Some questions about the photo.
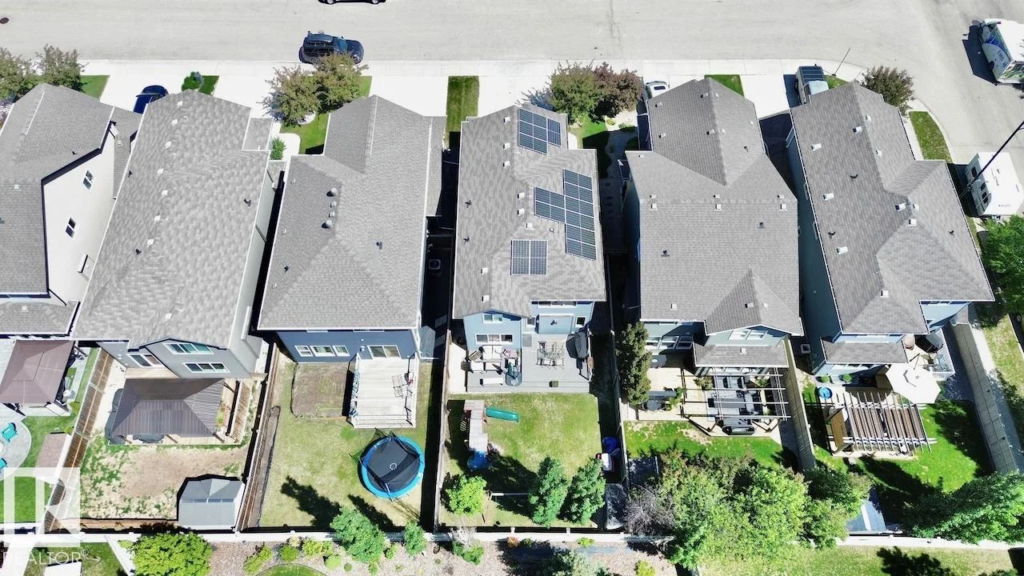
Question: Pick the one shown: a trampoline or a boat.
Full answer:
I can see a trampoline in this picture.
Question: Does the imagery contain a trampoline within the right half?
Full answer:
No, within the right half there is no trampoline.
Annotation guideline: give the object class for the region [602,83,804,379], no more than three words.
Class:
house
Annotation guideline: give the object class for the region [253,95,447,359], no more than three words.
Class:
house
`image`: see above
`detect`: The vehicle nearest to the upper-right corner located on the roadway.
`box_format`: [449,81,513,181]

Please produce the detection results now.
[981,19,1024,81]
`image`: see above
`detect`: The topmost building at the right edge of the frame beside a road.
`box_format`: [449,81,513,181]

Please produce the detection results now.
[771,89,996,375]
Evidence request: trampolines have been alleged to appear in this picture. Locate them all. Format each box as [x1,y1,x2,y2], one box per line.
[356,428,426,502]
